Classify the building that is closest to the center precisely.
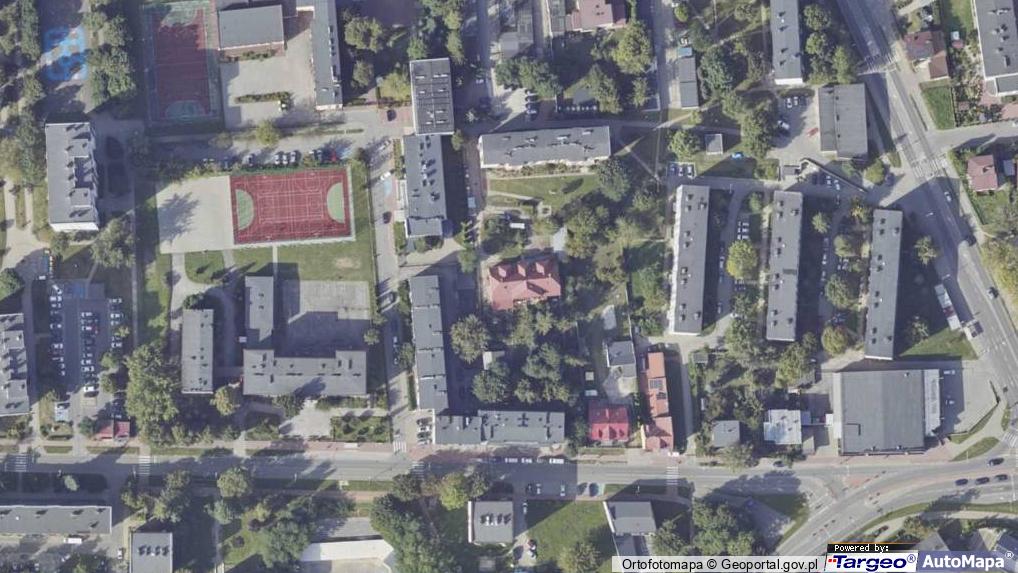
residential house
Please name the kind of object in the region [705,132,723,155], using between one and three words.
shed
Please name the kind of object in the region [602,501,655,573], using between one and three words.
house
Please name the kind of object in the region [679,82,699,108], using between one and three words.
building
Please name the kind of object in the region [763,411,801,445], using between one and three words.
house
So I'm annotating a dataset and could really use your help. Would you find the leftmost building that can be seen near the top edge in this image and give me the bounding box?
[218,4,285,52]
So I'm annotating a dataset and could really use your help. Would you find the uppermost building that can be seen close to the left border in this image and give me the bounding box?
[45,122,107,236]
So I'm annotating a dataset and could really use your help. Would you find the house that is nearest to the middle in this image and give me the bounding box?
[489,259,561,310]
